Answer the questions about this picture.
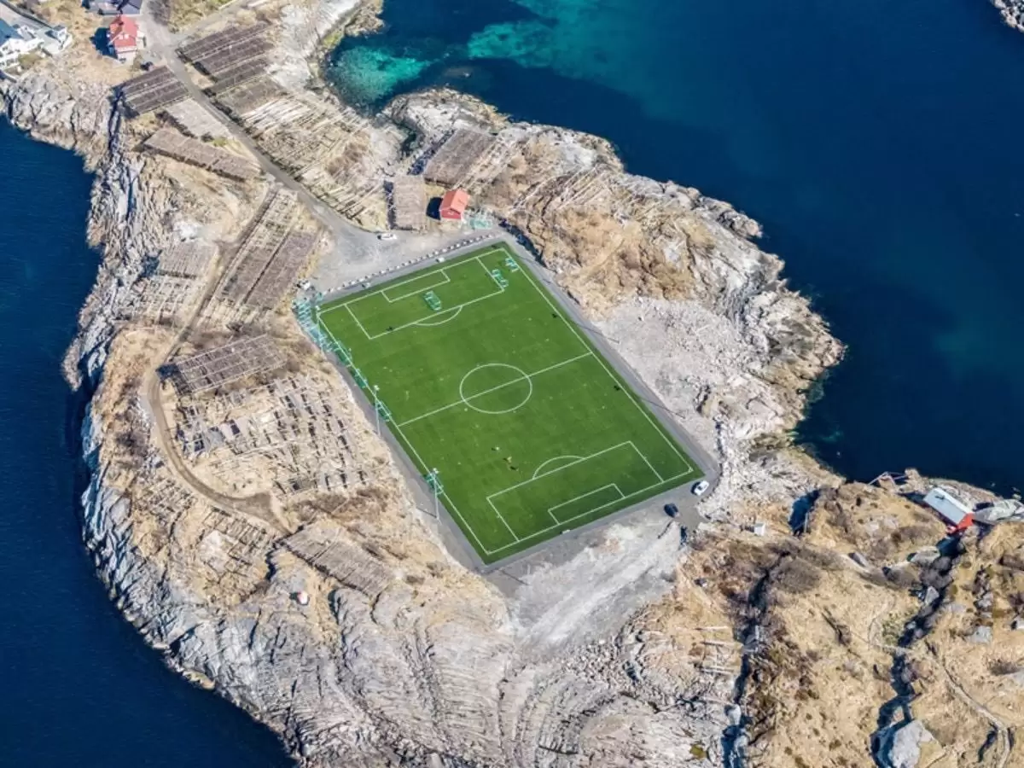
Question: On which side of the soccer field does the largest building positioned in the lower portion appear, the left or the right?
to the right of it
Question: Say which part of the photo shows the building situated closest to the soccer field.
top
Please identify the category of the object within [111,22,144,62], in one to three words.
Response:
house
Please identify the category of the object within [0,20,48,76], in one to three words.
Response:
house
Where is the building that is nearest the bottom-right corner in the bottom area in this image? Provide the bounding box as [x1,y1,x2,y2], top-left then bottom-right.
[917,482,976,545]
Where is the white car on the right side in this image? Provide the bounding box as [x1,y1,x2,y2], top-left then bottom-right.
[693,481,707,495]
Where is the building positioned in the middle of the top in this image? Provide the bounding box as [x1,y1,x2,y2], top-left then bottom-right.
[441,189,466,219]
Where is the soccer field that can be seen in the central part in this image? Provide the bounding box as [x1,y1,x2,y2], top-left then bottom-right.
[309,240,705,564]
